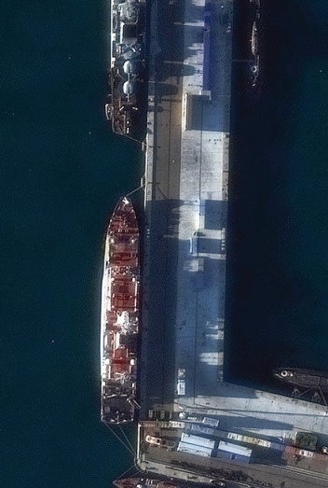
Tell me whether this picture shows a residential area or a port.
port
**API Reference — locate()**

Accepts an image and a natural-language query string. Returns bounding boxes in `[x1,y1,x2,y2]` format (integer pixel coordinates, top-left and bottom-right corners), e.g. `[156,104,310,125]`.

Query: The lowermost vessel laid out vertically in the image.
[101,197,140,423]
